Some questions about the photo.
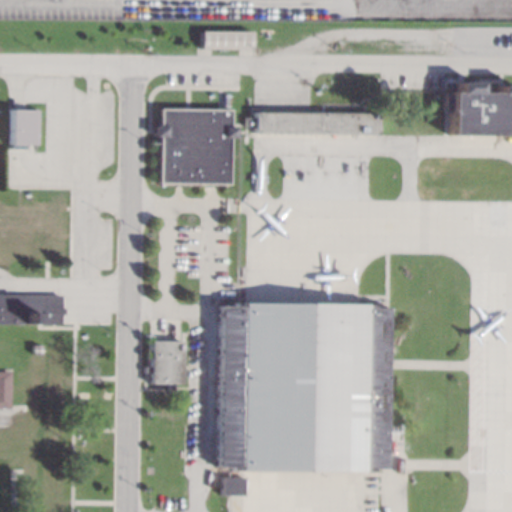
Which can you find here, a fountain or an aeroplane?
aeroplane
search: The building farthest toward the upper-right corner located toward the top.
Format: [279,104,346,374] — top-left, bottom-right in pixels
[446,84,512,136]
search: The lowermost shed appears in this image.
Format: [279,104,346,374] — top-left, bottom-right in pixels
[222,476,246,496]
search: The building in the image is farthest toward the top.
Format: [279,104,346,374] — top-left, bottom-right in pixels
[199,30,256,54]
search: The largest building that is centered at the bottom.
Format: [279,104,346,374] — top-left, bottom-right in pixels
[217,302,392,472]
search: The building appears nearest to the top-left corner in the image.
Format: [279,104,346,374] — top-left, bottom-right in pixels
[8,109,42,152]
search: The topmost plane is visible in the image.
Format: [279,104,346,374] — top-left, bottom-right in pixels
[253,156,270,194]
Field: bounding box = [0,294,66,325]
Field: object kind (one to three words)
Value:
building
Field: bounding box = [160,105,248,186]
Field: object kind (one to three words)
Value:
building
